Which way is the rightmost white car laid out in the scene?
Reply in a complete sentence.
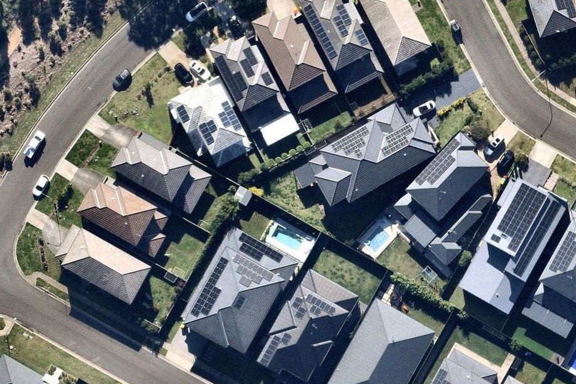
In this picture, the rightmost white car lies on a diagonal.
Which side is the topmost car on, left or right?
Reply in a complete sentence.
The topmost car sits on the left side.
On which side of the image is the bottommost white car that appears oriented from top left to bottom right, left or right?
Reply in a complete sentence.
You can find the bottommost white car that appears oriented from top left to bottom right on the left side of the picture.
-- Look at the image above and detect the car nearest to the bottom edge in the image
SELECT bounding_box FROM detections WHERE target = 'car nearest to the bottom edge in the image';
[31,175,50,198]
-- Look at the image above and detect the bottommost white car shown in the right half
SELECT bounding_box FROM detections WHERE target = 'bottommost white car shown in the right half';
[483,132,505,157]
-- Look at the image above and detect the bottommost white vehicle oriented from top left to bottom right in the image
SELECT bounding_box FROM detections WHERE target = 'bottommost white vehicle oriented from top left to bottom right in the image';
[189,58,210,82]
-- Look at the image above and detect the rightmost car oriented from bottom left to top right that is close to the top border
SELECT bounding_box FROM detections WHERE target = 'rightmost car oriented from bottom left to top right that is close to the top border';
[184,0,209,22]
